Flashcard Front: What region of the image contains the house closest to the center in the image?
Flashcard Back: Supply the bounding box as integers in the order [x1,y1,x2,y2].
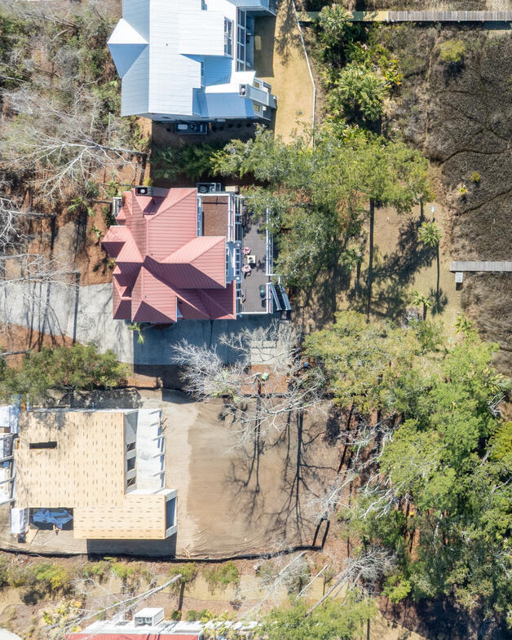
[99,185,292,322]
